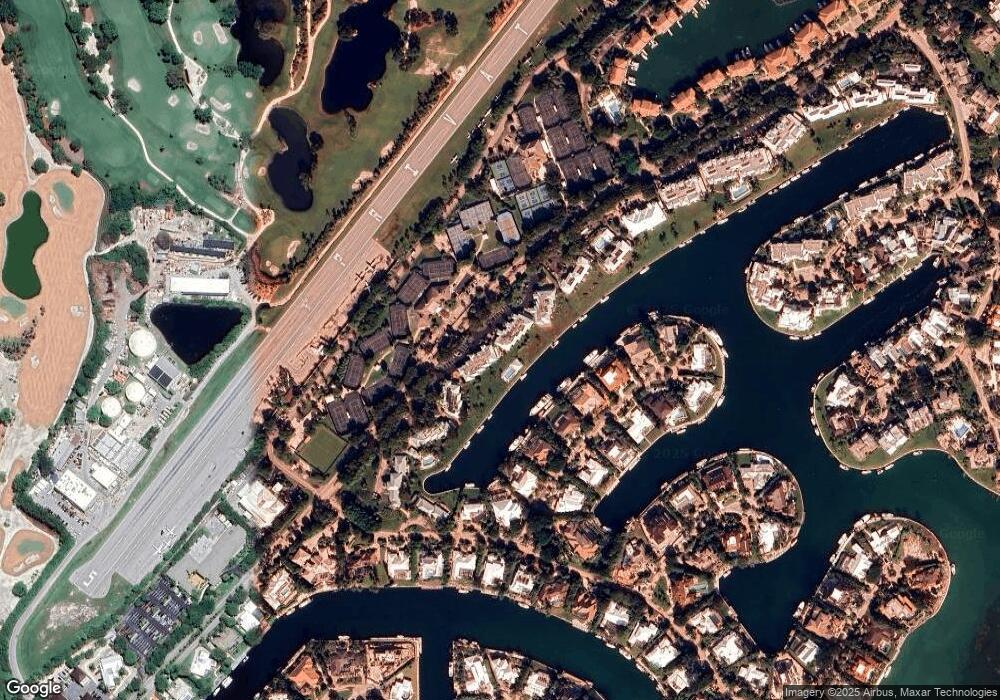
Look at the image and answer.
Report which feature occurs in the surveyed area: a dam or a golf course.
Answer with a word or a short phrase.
golf course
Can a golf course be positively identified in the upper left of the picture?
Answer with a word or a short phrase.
Yes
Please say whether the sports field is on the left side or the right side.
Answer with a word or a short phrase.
left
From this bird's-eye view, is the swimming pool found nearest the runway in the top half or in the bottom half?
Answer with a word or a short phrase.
top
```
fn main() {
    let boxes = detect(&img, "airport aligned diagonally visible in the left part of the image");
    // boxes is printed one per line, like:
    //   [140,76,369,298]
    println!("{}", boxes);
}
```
[69,0,555,597]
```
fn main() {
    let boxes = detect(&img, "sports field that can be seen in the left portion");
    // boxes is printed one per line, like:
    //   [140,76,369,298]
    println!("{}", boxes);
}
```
[297,425,347,473]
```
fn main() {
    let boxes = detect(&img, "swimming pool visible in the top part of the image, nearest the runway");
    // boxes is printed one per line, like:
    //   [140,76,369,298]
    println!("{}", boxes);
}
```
[600,93,628,121]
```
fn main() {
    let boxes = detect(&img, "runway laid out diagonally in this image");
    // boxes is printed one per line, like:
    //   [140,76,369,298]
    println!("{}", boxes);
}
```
[69,0,555,597]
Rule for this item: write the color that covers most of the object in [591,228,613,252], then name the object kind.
white swimming pool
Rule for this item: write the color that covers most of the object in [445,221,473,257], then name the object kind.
gray sports court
